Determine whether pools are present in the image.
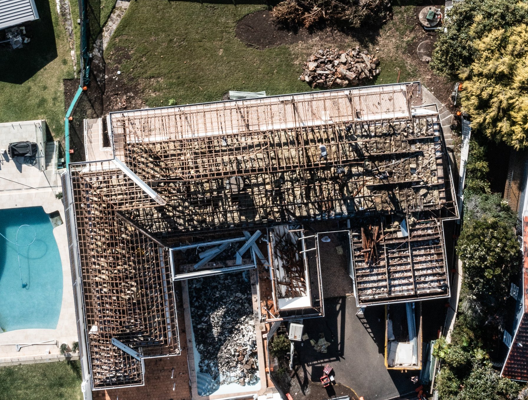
Yes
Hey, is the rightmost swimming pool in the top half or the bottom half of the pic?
bottom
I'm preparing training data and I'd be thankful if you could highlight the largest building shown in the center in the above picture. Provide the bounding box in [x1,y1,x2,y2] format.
[67,80,461,396]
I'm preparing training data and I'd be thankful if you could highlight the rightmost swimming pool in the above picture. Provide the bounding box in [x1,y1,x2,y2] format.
[189,271,260,397]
